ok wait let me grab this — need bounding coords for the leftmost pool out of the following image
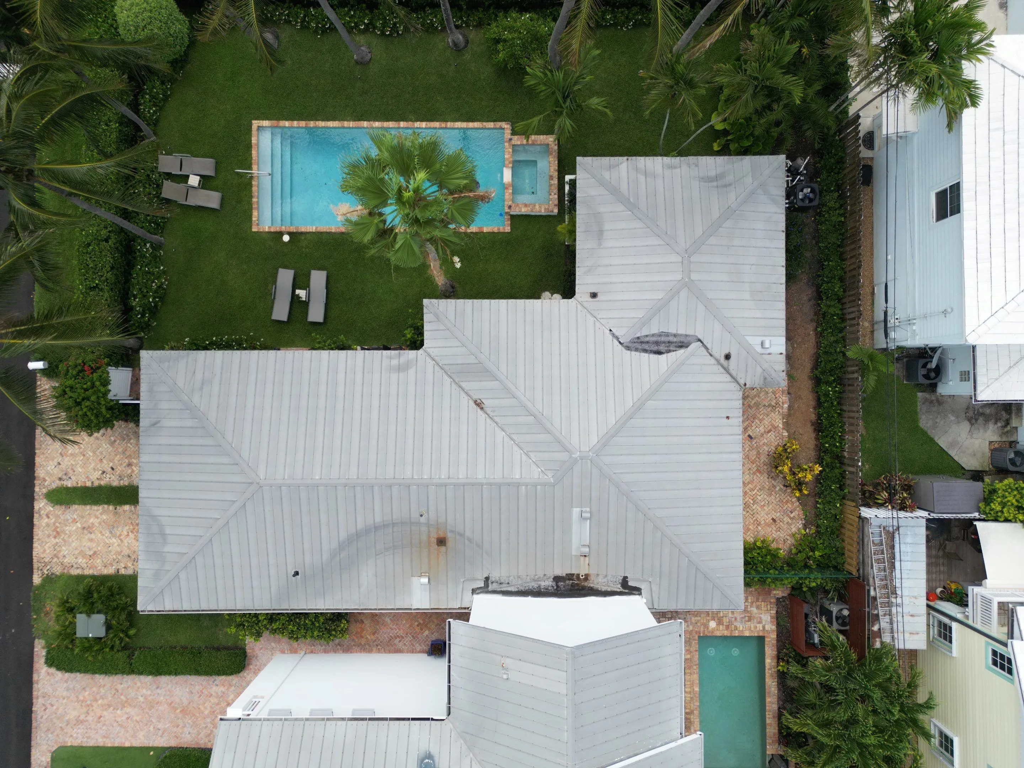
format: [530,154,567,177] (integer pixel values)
[251,120,510,232]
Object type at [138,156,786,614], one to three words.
house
